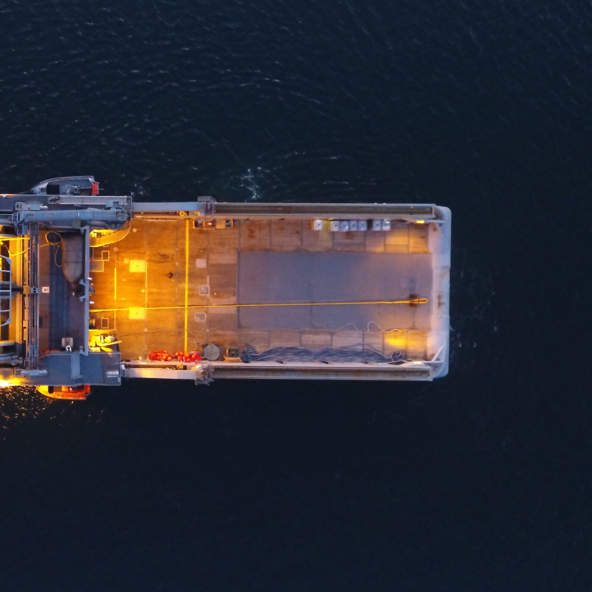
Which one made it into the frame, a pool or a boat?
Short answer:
boat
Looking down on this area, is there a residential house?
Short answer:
No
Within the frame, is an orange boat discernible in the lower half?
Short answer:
Yes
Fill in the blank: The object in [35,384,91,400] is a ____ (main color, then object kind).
orange boat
